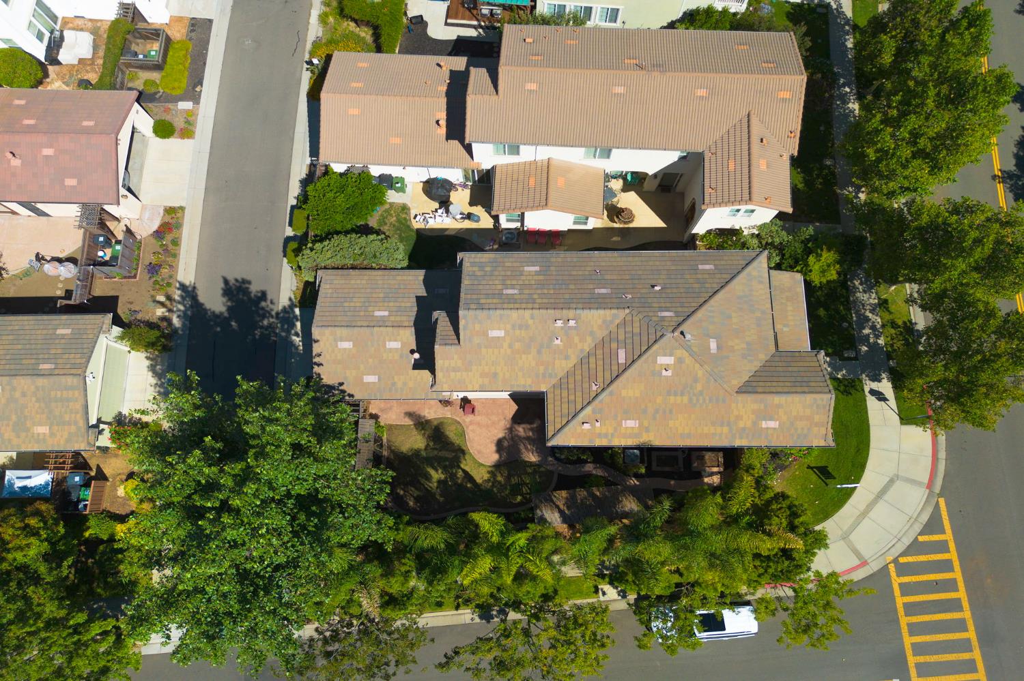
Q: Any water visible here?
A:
No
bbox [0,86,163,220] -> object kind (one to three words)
house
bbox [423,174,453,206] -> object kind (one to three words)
umbrella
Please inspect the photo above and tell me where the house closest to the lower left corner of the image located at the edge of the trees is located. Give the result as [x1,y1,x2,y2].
[0,312,132,453]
